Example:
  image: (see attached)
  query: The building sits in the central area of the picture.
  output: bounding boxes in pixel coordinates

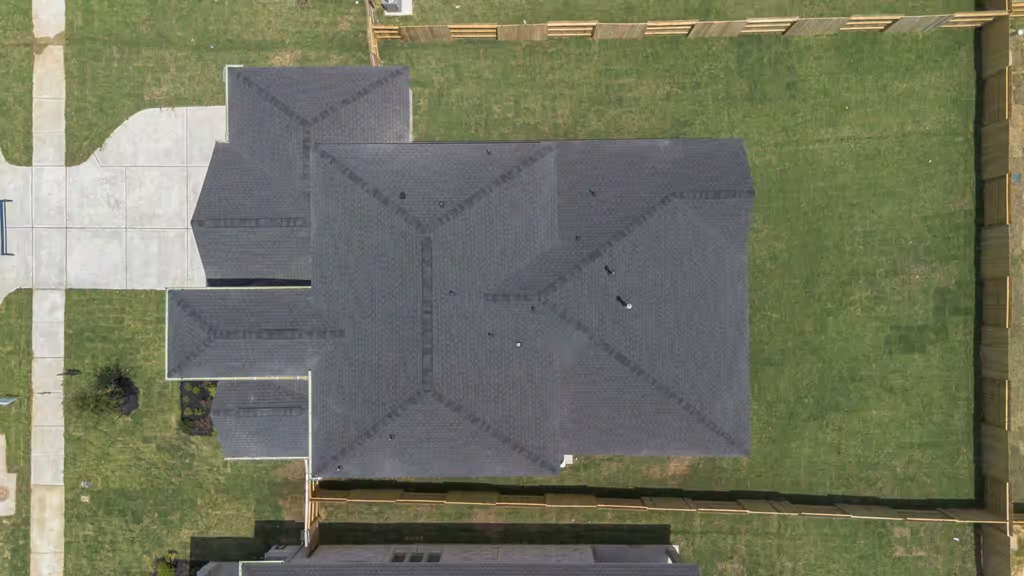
[165,64,756,480]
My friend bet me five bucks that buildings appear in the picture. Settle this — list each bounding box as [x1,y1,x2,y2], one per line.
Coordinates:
[165,64,756,480]
[207,544,702,576]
